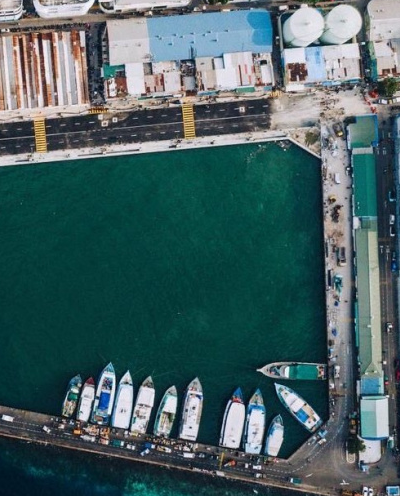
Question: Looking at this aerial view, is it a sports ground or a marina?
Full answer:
What you see here is a marina.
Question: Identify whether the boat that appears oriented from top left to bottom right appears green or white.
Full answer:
From above, the boat that appears oriented from top left to bottom right appears white.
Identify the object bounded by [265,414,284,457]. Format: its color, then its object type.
white boat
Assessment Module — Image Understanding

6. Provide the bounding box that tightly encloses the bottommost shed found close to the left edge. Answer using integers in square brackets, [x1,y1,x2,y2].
[0,30,90,116]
